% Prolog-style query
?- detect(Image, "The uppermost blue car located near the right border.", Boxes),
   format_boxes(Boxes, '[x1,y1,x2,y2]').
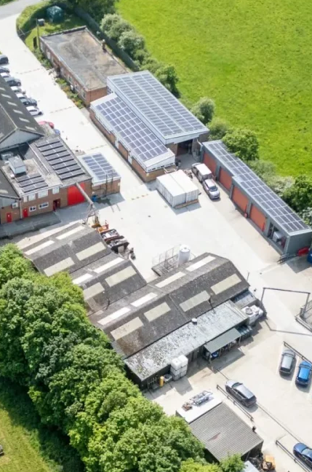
[296,362,312,387]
